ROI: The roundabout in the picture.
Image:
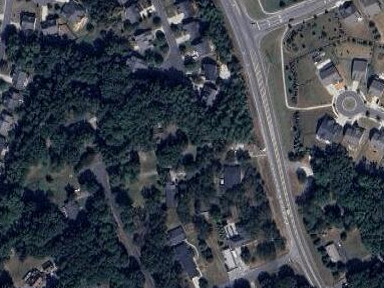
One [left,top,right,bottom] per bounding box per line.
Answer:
[333,89,363,119]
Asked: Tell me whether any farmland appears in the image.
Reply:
No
